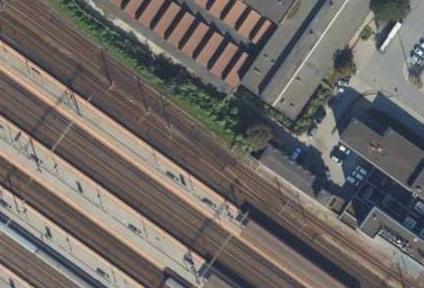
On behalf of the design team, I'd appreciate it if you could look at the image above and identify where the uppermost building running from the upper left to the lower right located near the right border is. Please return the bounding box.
[340,117,424,190]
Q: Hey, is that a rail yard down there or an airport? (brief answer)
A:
rail yard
